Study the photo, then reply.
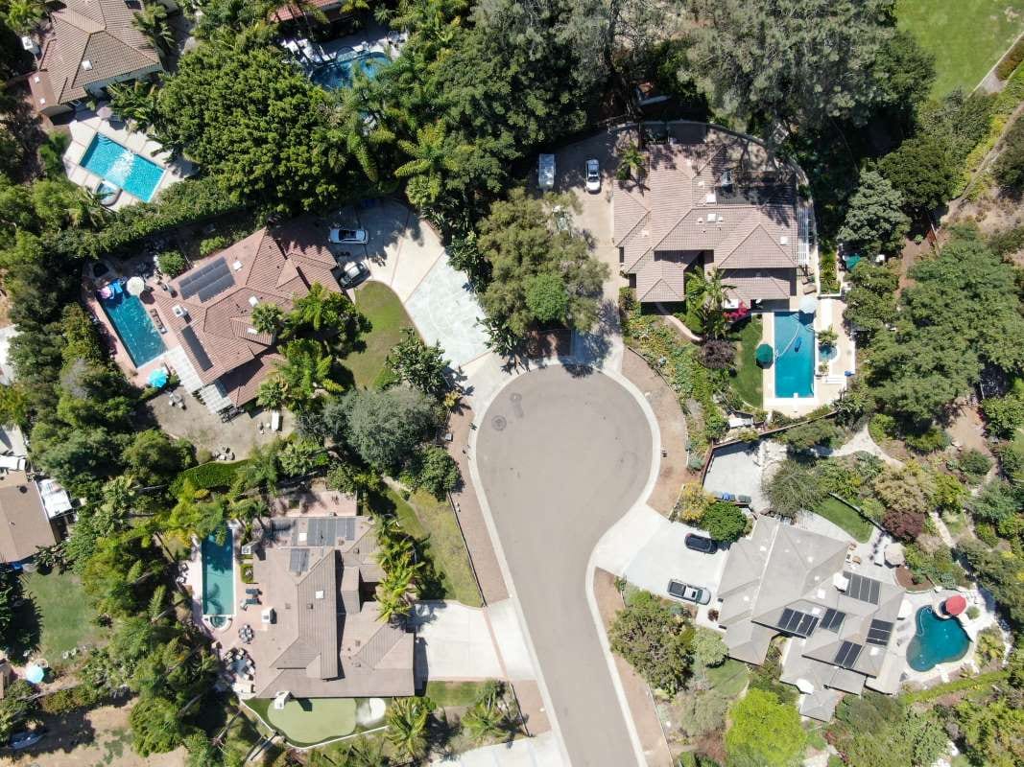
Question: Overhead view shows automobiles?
Yes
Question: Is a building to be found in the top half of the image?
Yes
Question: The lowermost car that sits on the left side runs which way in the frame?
on a diagonal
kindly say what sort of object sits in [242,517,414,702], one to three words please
house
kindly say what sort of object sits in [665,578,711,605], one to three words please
truck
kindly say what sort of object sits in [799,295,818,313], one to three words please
umbrella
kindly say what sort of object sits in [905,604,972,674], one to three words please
swimming pool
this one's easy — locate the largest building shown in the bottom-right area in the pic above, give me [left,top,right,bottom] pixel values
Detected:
[716,516,905,720]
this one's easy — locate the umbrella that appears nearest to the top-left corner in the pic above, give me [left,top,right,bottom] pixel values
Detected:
[99,106,115,121]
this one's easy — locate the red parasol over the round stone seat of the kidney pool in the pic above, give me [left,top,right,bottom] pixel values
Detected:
[943,595,964,616]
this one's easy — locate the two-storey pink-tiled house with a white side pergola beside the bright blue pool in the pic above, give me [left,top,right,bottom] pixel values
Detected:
[613,144,812,309]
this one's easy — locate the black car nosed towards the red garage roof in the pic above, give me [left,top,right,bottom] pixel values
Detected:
[338,260,371,288]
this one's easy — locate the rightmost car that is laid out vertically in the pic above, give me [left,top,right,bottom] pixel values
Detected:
[585,158,601,193]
